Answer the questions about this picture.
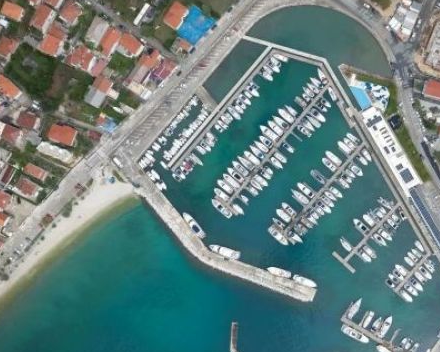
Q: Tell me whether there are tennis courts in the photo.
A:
No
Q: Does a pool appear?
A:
Yes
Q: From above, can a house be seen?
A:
Yes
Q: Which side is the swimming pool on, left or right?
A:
right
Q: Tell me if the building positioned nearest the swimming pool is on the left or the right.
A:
right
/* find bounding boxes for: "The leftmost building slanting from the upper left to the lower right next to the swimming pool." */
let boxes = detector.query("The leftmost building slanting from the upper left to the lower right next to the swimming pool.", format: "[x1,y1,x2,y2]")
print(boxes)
[361,108,424,197]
